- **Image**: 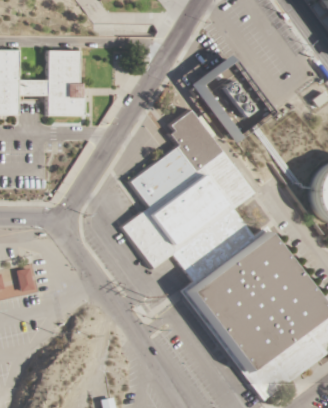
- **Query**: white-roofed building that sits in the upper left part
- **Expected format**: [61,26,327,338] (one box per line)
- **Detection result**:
[0,50,86,116]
